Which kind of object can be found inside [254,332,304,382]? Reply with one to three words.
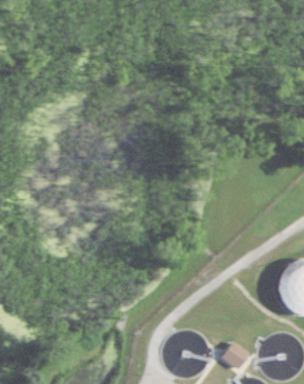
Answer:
storage tank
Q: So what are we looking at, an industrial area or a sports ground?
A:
industrial area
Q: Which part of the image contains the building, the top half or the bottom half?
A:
bottom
